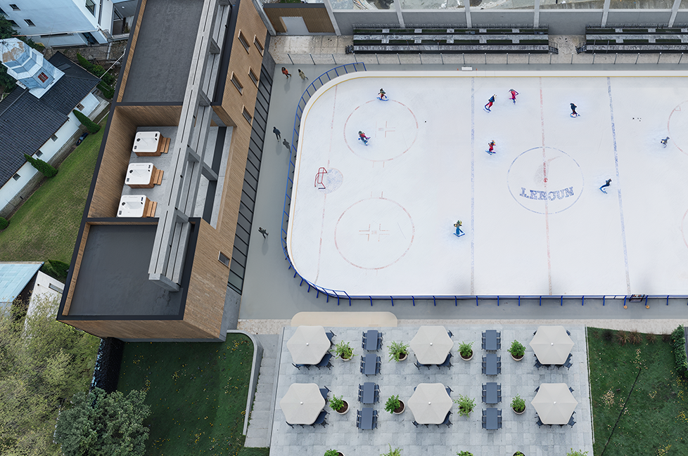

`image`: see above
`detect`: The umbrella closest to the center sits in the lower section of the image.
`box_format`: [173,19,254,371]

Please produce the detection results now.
[286,327,333,366]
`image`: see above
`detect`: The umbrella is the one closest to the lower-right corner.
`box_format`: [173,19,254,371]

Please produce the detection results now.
[530,383,578,426]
